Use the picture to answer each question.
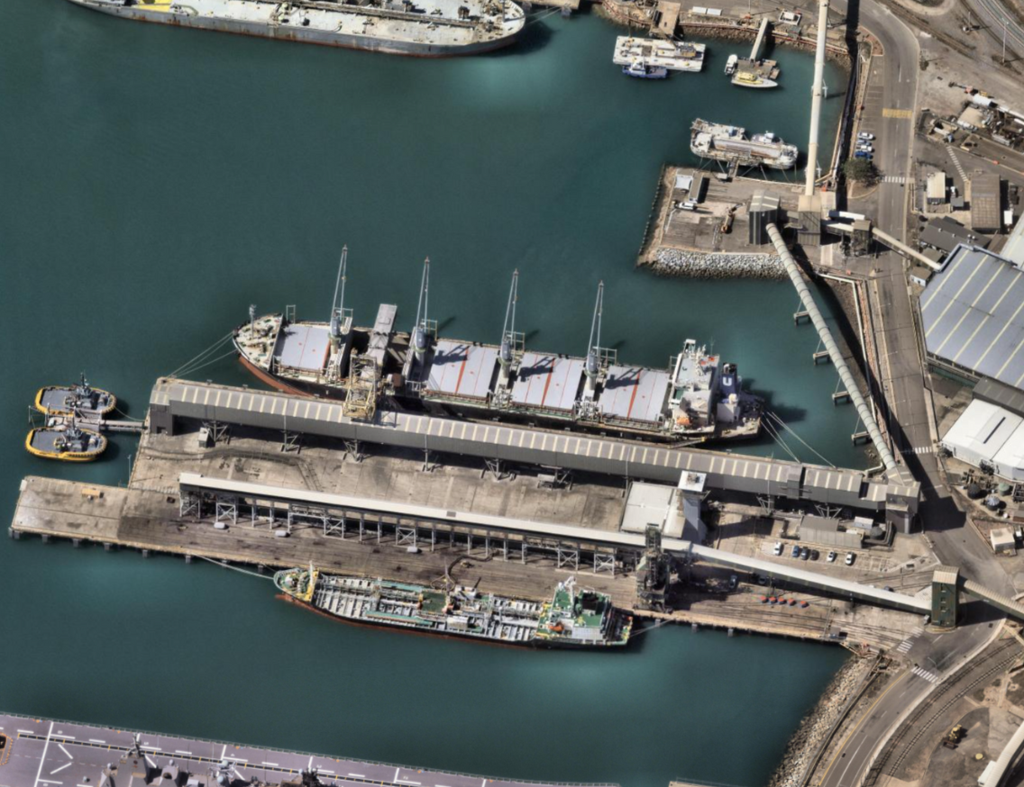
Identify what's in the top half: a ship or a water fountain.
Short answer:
ship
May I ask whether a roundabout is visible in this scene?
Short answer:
No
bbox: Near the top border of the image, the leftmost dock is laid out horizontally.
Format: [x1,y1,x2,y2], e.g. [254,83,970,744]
[521,0,580,20]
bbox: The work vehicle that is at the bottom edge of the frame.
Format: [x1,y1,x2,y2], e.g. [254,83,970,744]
[944,722,963,748]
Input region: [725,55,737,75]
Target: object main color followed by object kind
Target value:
white boat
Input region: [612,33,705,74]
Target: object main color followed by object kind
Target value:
white ship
